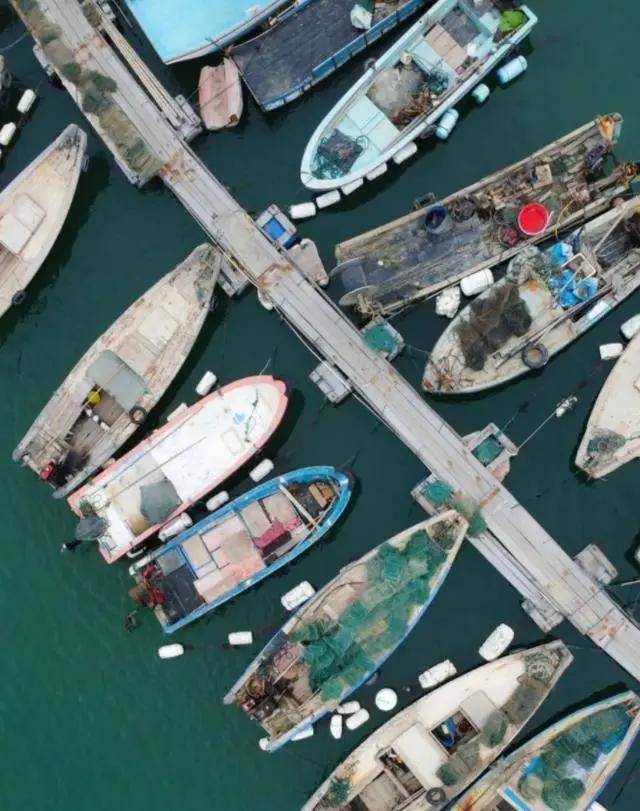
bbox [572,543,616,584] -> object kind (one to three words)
pier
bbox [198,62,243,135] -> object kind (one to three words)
boat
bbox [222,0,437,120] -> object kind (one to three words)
boat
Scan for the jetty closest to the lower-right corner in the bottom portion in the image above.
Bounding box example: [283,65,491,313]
[520,595,562,631]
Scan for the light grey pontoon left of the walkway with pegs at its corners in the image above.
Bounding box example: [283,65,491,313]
[309,363,352,404]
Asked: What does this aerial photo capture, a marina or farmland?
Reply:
marina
